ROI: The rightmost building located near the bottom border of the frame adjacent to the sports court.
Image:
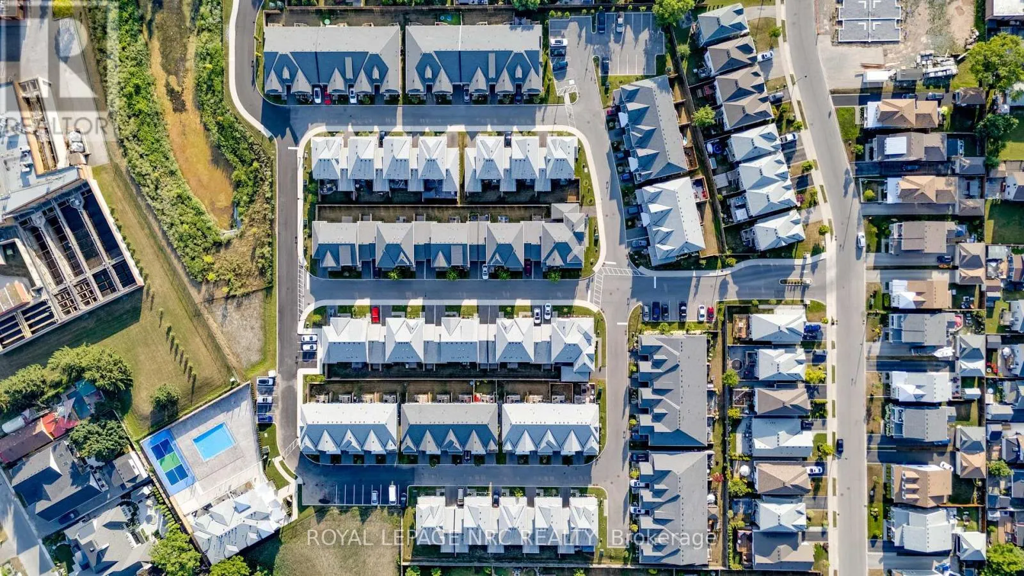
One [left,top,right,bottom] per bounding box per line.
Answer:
[189,475,288,565]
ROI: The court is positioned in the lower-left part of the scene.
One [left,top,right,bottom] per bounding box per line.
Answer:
[141,428,198,495]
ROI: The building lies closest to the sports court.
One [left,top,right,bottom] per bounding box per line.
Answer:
[114,450,153,486]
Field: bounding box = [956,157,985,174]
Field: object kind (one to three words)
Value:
building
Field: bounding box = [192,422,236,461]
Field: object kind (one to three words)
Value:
swimming pool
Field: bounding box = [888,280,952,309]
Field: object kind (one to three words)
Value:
house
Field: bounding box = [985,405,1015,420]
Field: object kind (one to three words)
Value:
shed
